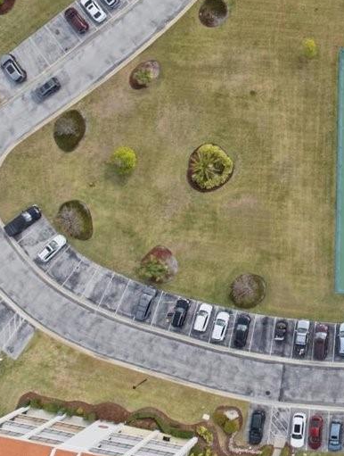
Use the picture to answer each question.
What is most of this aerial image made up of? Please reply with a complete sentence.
Most of the picture is covered by grass.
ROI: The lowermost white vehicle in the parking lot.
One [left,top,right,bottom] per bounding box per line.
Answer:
[289,415,304,449]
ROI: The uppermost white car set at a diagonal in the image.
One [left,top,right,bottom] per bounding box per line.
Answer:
[77,0,106,23]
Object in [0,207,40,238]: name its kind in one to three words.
truck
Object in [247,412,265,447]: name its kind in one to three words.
car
